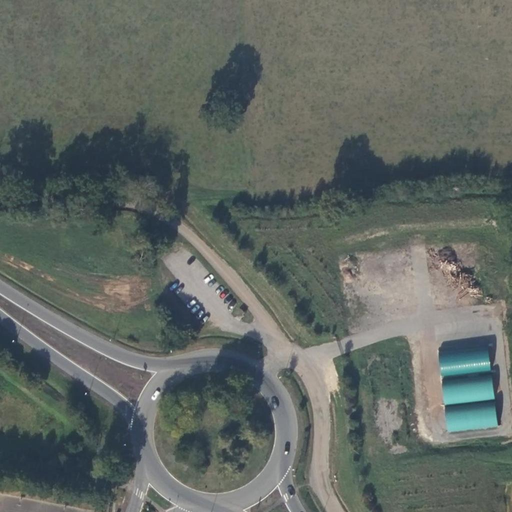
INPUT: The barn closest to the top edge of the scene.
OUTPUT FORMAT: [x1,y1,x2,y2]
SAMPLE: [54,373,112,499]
[439,344,491,375]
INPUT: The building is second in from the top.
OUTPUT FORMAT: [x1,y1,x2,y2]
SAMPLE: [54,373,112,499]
[442,371,495,404]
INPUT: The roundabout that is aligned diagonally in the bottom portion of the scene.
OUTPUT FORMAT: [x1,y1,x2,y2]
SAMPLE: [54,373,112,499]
[0,294,297,512]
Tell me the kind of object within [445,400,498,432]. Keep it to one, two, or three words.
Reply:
barn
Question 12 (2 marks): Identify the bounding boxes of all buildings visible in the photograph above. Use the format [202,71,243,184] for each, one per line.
[439,344,491,375]
[442,371,495,404]
[445,400,498,432]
